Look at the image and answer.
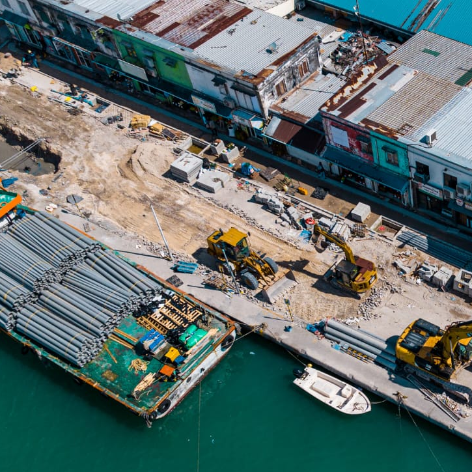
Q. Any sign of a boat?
Yes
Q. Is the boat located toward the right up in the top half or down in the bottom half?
bottom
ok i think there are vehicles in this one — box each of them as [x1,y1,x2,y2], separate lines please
[213,227,302,306]
[393,314,472,401]
[313,223,382,301]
